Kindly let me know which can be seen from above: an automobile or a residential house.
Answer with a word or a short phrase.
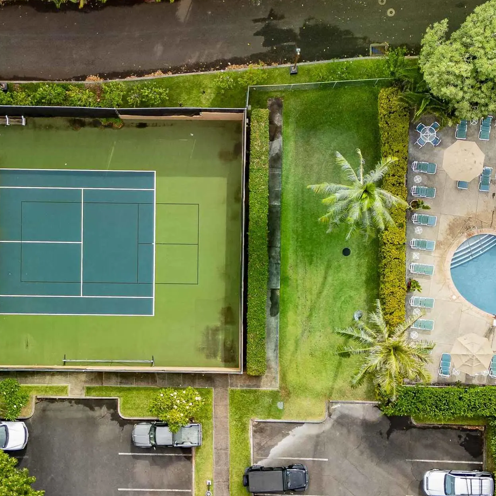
automobile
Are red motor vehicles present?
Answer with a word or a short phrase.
No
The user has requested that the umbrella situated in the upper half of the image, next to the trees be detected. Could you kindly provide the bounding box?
[442,139,484,181]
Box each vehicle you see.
[422,467,495,496]
[245,464,310,495]
[0,421,31,453]
[132,421,203,450]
